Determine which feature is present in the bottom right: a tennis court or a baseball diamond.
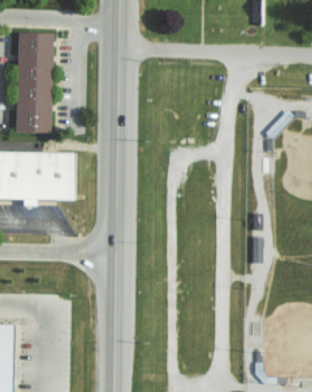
baseball diamond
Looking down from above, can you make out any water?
No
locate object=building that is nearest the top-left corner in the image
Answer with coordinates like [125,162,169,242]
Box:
[16,33,54,133]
